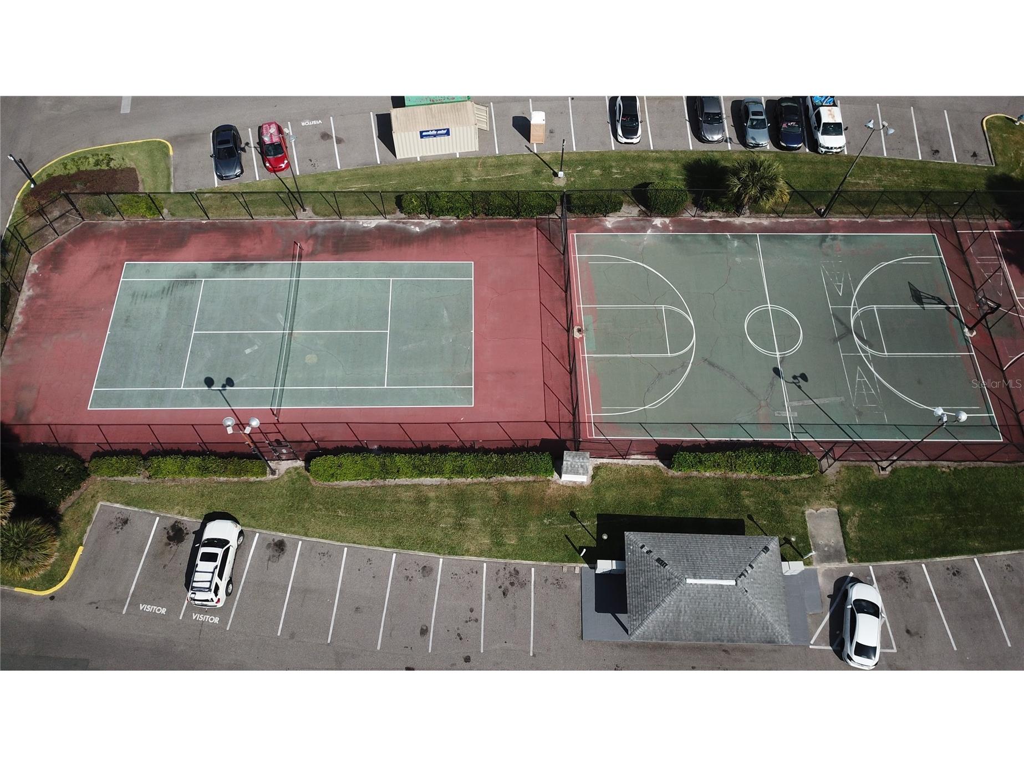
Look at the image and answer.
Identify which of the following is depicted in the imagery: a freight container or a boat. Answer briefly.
freight container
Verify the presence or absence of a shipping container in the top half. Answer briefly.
Yes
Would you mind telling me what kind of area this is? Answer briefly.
sports ground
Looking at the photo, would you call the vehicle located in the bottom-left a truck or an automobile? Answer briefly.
automobile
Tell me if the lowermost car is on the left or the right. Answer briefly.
right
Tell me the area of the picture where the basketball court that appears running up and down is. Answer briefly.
right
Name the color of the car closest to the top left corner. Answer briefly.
black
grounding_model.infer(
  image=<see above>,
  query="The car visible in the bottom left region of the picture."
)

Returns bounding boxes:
[188,518,247,607]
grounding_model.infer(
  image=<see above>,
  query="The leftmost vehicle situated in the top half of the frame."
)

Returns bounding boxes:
[211,125,245,180]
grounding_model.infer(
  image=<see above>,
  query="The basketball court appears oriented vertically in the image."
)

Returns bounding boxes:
[953,220,1024,428]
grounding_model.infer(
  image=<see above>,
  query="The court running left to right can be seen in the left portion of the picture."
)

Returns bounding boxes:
[0,218,574,466]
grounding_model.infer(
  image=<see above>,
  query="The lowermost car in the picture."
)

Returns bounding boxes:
[839,580,885,670]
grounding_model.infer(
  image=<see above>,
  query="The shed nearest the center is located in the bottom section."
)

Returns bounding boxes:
[557,451,589,483]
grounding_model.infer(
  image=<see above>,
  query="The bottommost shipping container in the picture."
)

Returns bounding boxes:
[390,101,488,159]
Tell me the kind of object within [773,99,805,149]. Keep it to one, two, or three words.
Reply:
car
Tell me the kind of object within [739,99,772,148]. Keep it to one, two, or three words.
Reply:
car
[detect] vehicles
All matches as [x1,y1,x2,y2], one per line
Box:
[693,90,727,141]
[259,126,290,172]
[839,580,885,670]
[773,99,805,149]
[211,125,245,180]
[803,93,845,153]
[739,99,772,148]
[615,93,645,143]
[188,518,247,607]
